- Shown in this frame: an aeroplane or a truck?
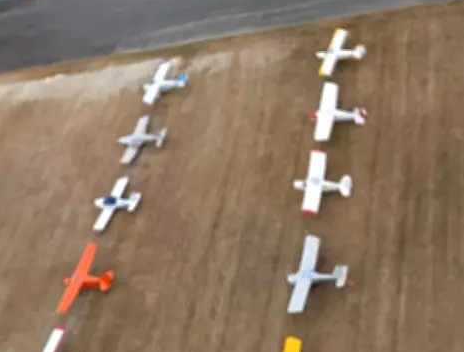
aeroplane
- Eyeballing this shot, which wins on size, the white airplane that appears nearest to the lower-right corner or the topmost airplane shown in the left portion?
the white airplane that appears nearest to the lower-right corner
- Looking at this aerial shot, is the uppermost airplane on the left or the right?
right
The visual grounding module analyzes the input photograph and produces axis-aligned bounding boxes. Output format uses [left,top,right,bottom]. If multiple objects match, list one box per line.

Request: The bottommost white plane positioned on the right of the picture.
[286,236,351,313]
